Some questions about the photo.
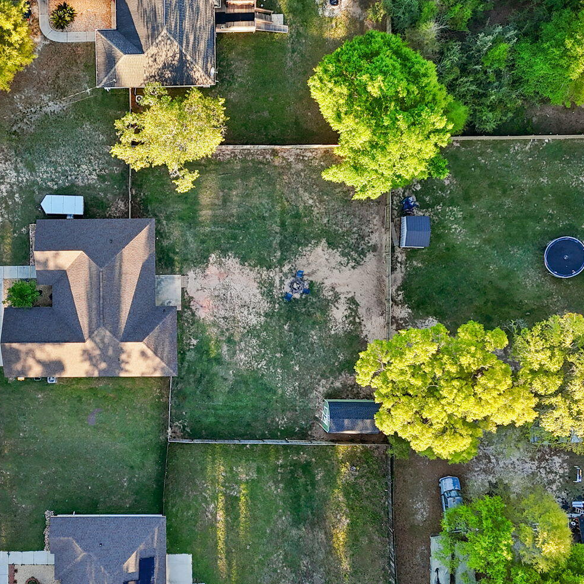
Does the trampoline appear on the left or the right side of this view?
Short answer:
right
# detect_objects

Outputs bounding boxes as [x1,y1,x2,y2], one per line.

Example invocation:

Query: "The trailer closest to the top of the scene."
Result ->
[36,196,84,218]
